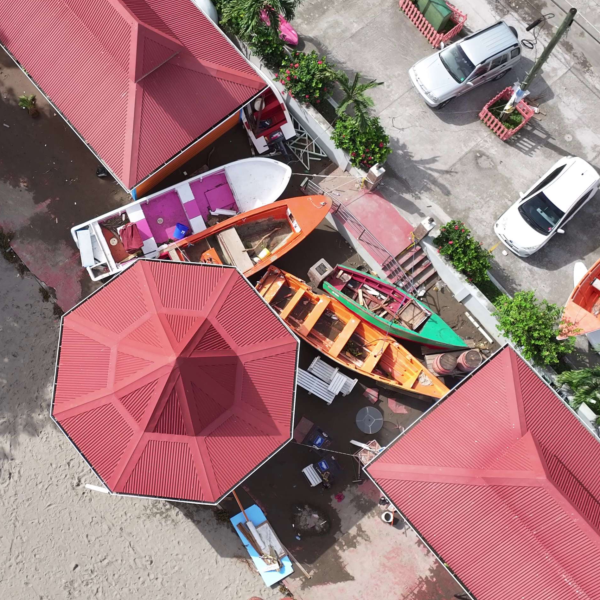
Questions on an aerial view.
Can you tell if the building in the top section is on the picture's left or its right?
left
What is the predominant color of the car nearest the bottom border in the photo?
white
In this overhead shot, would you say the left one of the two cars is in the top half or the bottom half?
top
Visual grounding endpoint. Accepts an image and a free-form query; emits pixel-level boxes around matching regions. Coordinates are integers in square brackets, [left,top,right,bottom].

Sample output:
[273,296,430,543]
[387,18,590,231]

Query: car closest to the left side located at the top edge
[410,7,533,106]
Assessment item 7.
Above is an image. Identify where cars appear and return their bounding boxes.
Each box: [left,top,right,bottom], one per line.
[410,7,533,106]
[493,146,600,258]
